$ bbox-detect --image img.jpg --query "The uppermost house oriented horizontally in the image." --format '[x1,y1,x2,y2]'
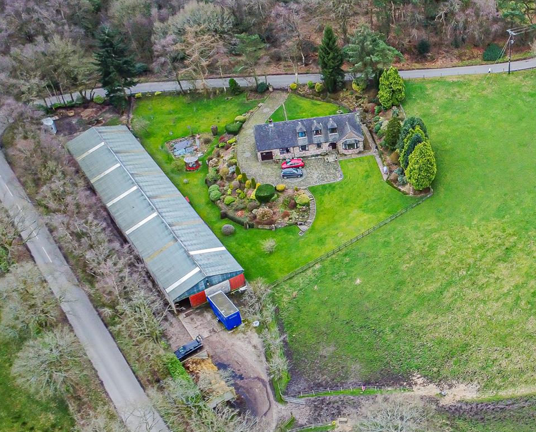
[252,107,365,161]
